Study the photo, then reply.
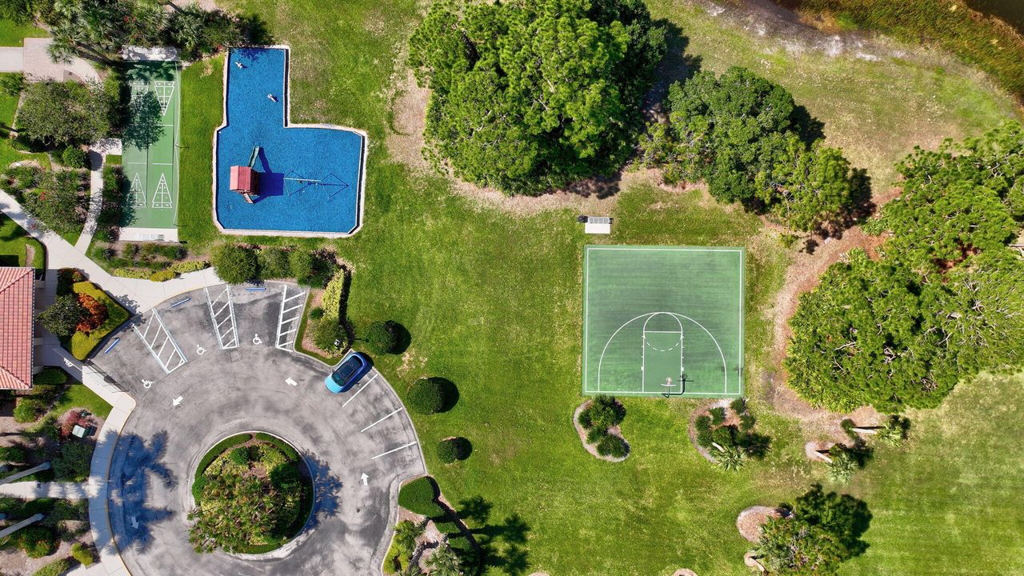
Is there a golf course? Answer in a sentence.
No, the frame has no golf course in it.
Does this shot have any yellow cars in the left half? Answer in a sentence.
No, no yellow car appears in the left half.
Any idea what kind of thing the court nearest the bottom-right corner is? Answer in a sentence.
What you see as the court nearest the bottom-right corner is a basketball court.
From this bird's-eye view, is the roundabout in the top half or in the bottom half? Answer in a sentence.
The bottom half of the photo is where the roundabout is.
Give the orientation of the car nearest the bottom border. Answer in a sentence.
The car nearest the bottom border runs at an angle in the image.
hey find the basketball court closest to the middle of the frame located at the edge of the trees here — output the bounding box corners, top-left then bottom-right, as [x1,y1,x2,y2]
[582,244,746,398]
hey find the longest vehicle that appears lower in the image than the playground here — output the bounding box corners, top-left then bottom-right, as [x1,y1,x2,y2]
[328,351,372,393]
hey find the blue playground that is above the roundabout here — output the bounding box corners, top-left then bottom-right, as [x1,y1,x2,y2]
[211,44,367,237]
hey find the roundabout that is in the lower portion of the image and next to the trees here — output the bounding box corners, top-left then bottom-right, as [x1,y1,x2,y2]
[123,363,383,576]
